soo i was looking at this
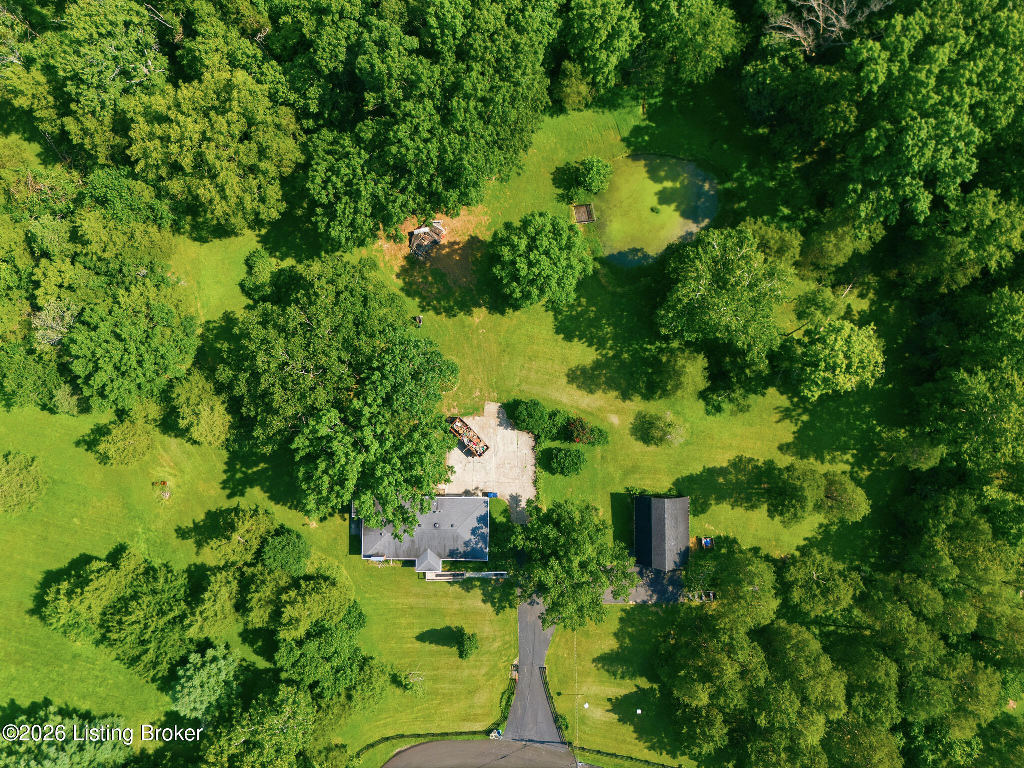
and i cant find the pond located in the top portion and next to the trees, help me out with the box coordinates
[595,154,721,267]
